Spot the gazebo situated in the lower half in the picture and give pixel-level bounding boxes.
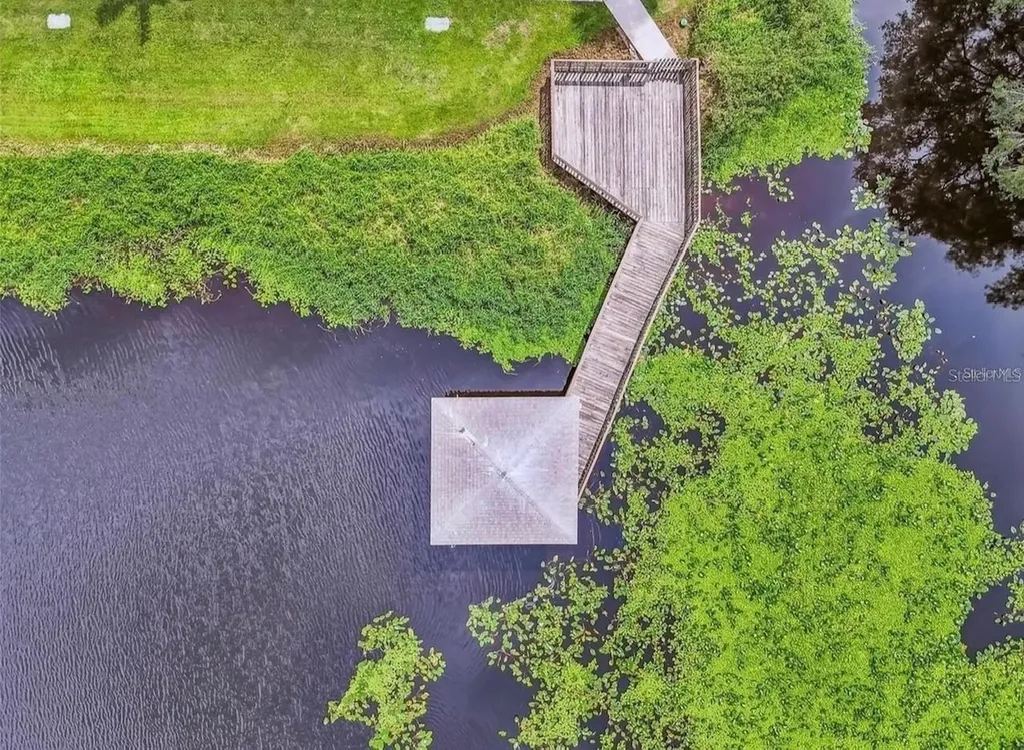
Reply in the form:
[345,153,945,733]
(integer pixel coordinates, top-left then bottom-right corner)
[431,396,580,546]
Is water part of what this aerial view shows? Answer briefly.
Yes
